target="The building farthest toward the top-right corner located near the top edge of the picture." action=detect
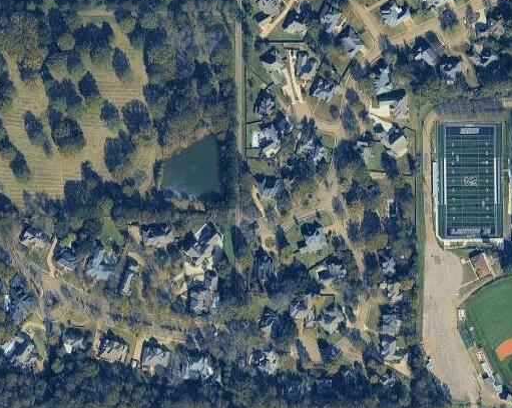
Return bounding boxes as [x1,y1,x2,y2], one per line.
[479,14,510,39]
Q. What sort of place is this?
residential area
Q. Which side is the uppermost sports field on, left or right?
right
